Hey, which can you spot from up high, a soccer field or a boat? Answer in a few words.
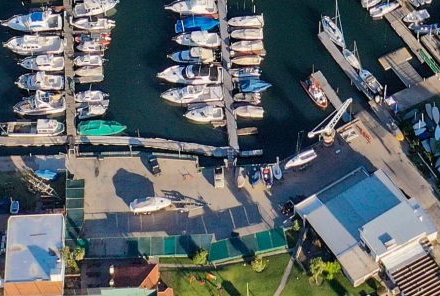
boat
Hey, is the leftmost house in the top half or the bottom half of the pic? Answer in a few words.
bottom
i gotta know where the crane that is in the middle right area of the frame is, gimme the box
[304,99,352,146]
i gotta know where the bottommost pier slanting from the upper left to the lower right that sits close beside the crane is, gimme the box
[305,70,345,115]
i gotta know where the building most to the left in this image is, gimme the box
[3,212,67,296]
